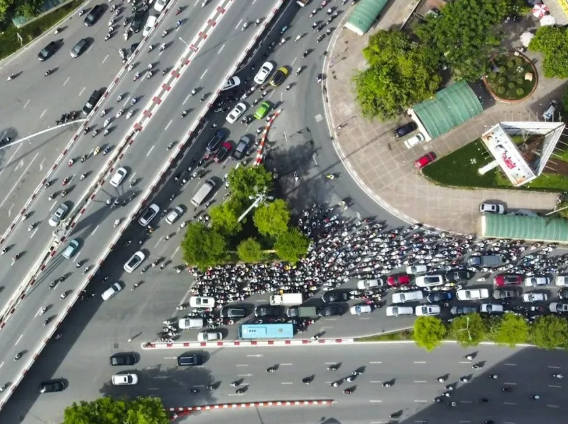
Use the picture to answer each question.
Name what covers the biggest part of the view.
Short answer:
paved ground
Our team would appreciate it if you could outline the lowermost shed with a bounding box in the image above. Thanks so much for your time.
[477,215,568,244]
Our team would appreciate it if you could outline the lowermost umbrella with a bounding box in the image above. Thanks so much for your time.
[519,33,534,47]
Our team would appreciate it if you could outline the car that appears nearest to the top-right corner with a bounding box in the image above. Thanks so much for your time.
[540,101,559,122]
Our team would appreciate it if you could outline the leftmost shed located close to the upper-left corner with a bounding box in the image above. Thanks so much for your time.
[13,0,80,30]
